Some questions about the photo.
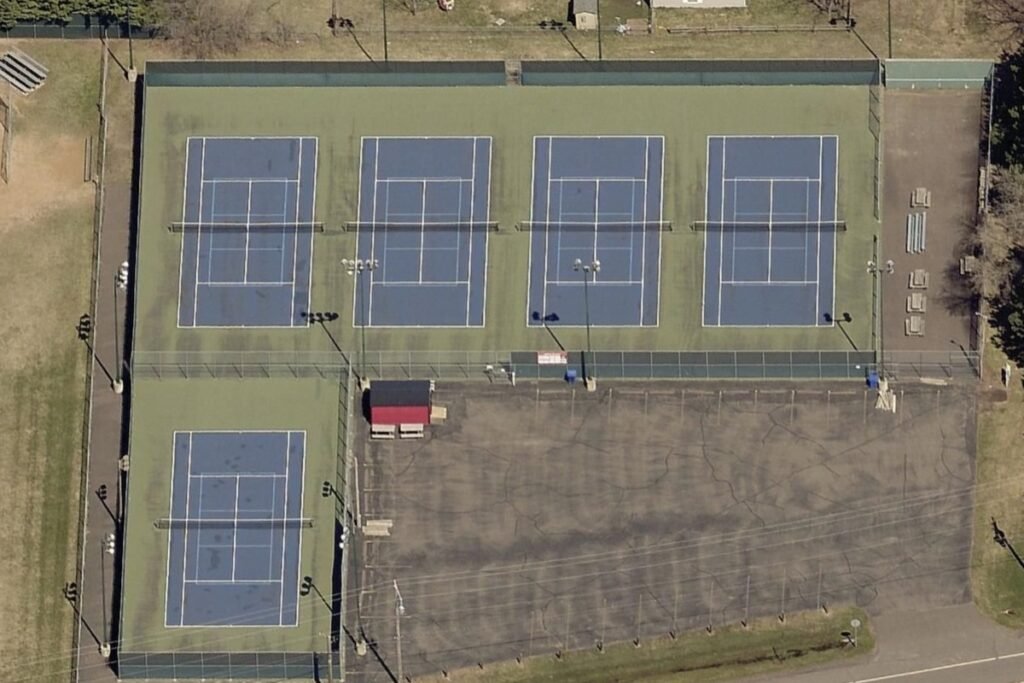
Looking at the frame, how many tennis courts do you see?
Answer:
5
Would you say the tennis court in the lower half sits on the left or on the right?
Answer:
left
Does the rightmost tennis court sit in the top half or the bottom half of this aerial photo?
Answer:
top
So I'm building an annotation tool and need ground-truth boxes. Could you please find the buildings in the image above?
[573,0,598,29]
[653,0,746,8]
[369,380,437,426]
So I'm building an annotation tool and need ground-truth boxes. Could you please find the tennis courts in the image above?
[528,136,664,327]
[178,137,317,327]
[353,137,491,327]
[165,431,306,626]
[703,136,837,326]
